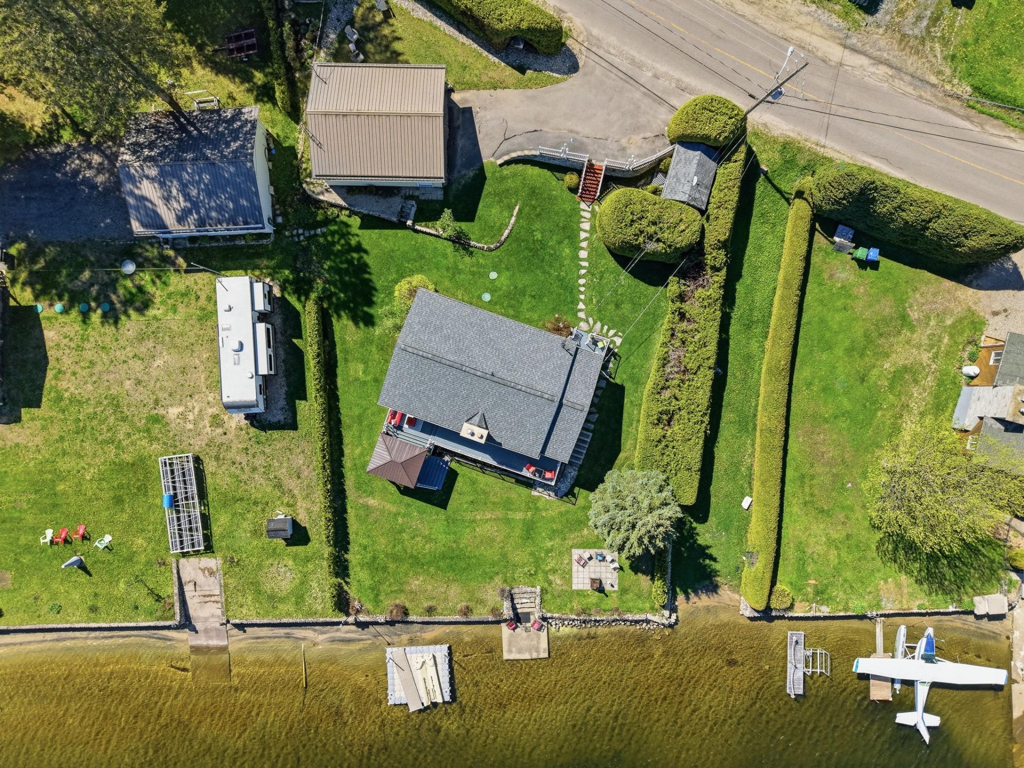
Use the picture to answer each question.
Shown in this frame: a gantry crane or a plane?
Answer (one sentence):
The image shows a plane.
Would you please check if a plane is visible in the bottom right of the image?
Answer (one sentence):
Yes, I can see a plane in the bottom right of the image.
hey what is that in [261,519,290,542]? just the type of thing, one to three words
shed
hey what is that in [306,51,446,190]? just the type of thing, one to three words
building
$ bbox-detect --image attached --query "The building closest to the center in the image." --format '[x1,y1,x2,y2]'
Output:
[377,287,612,486]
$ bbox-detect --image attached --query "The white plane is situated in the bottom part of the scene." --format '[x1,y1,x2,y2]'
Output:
[853,614,1007,746]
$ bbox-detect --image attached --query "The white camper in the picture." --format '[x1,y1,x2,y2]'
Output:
[215,276,279,421]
